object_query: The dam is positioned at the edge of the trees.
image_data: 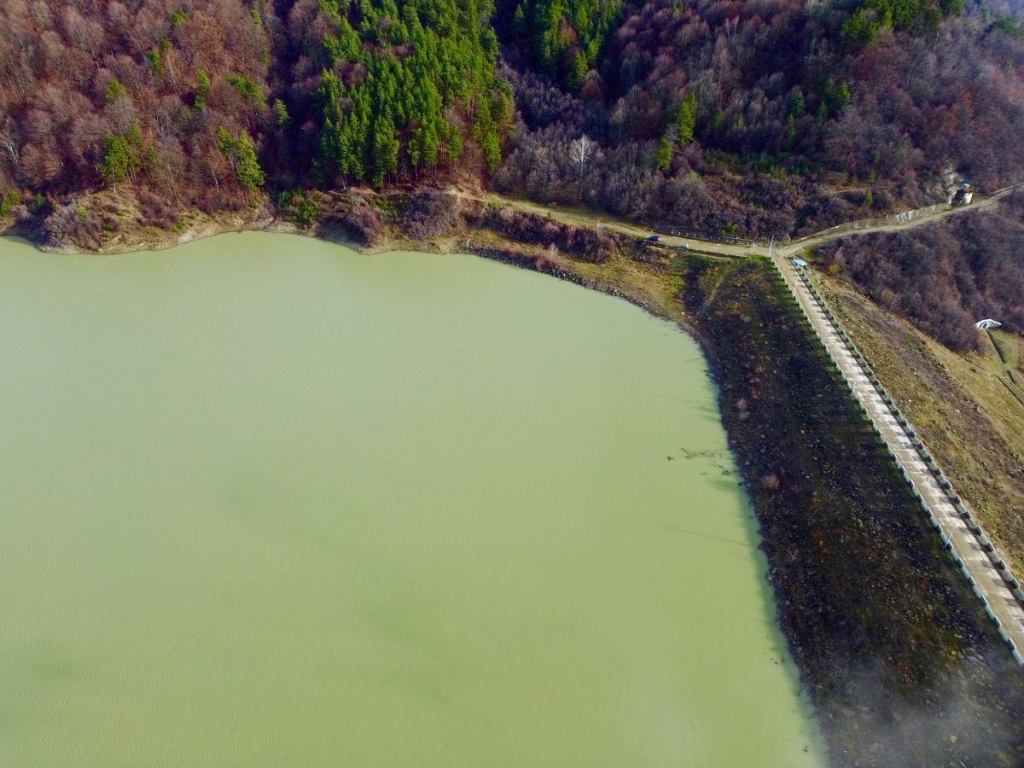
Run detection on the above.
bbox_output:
[663,255,1024,768]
